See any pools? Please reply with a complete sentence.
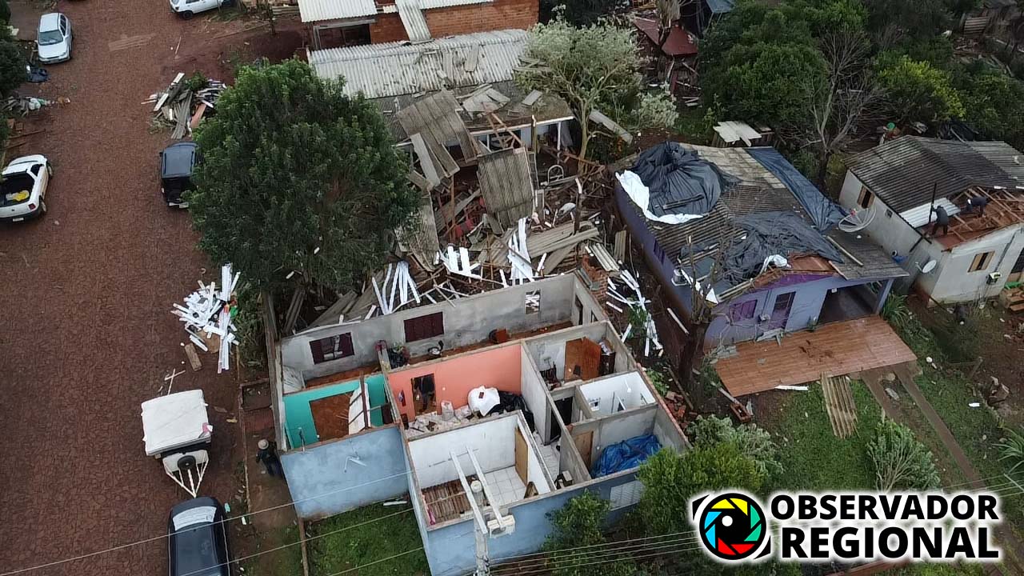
No, the photo shows no pool.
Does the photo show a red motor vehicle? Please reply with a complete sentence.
No, there's no red motor vehicle here.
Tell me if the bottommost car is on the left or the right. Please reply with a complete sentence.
The bottommost car appears in the left half of the scene.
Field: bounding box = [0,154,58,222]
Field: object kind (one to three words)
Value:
truck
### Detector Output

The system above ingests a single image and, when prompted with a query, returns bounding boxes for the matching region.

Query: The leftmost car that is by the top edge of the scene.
[29,15,72,60]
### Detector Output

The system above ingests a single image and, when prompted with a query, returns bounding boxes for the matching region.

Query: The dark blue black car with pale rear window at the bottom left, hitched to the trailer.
[165,486,235,576]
